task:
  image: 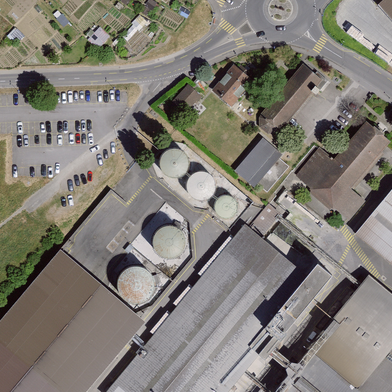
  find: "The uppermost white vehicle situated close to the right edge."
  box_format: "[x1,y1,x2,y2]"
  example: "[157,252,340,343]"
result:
[342,21,376,52]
